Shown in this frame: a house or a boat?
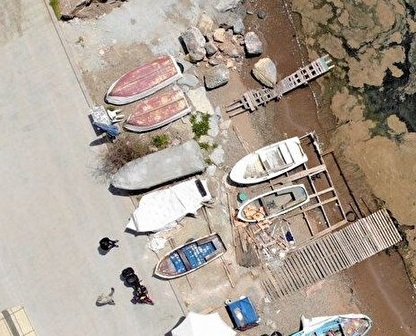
boat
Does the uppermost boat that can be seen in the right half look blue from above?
No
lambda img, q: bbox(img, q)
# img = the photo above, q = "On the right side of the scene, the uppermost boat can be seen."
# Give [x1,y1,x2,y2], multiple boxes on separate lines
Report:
[228,133,312,183]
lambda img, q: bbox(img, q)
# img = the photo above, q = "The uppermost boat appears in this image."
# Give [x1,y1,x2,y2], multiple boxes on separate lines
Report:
[106,55,187,106]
